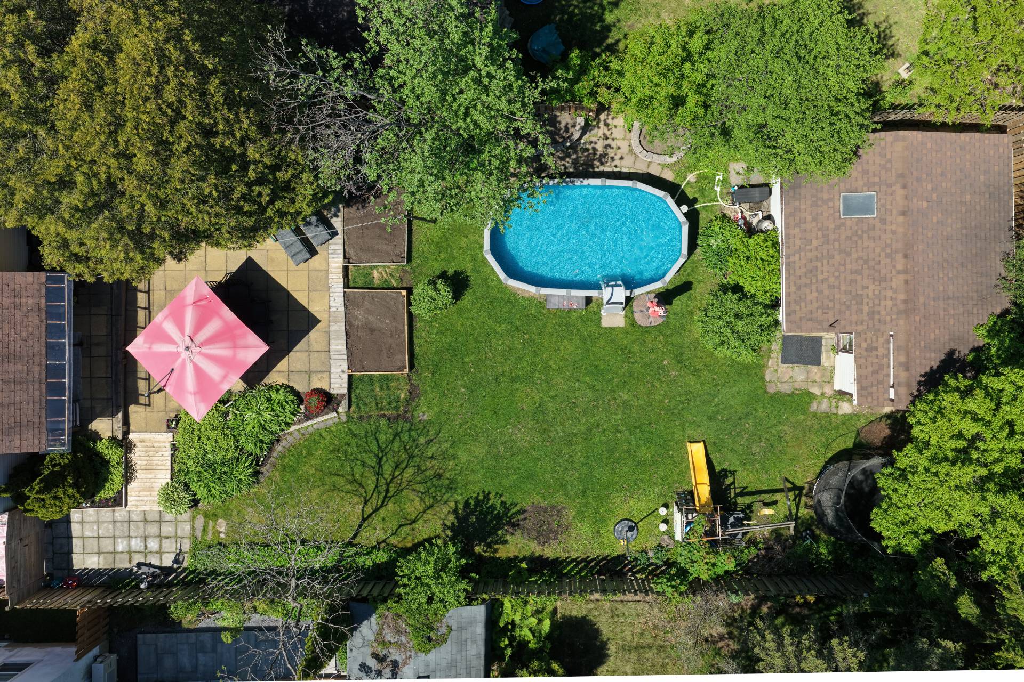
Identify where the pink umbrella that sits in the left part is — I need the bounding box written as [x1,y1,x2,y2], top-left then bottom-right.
[126,275,269,421]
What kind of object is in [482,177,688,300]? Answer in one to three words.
swimming pool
